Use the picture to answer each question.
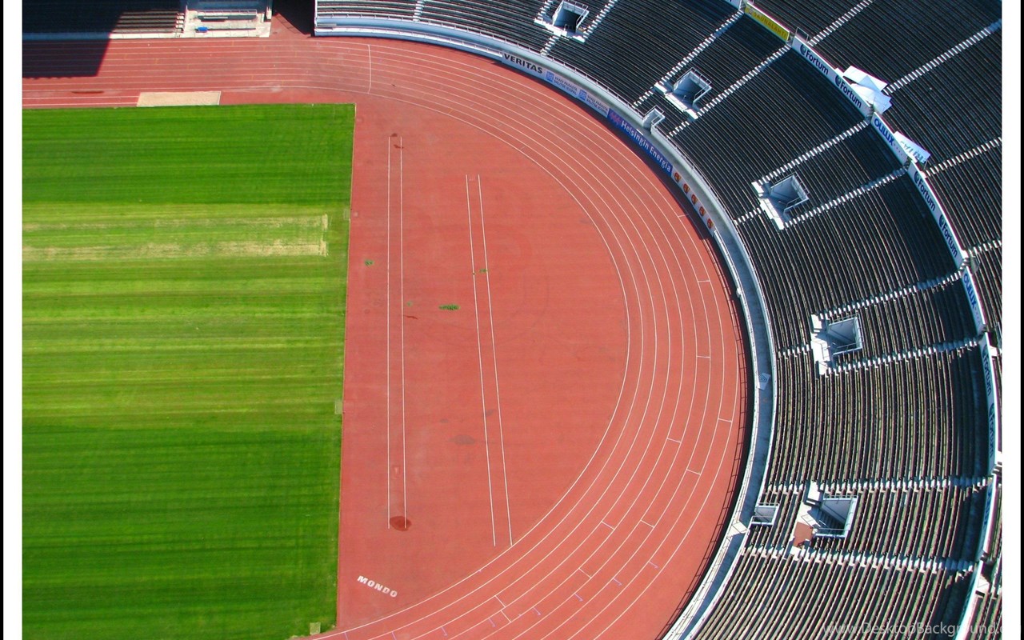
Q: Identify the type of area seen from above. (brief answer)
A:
sports ground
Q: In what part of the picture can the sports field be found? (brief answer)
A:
left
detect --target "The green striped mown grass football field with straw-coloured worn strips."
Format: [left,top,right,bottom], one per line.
[0,102,354,640]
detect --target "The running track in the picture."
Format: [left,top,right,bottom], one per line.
[0,21,774,640]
